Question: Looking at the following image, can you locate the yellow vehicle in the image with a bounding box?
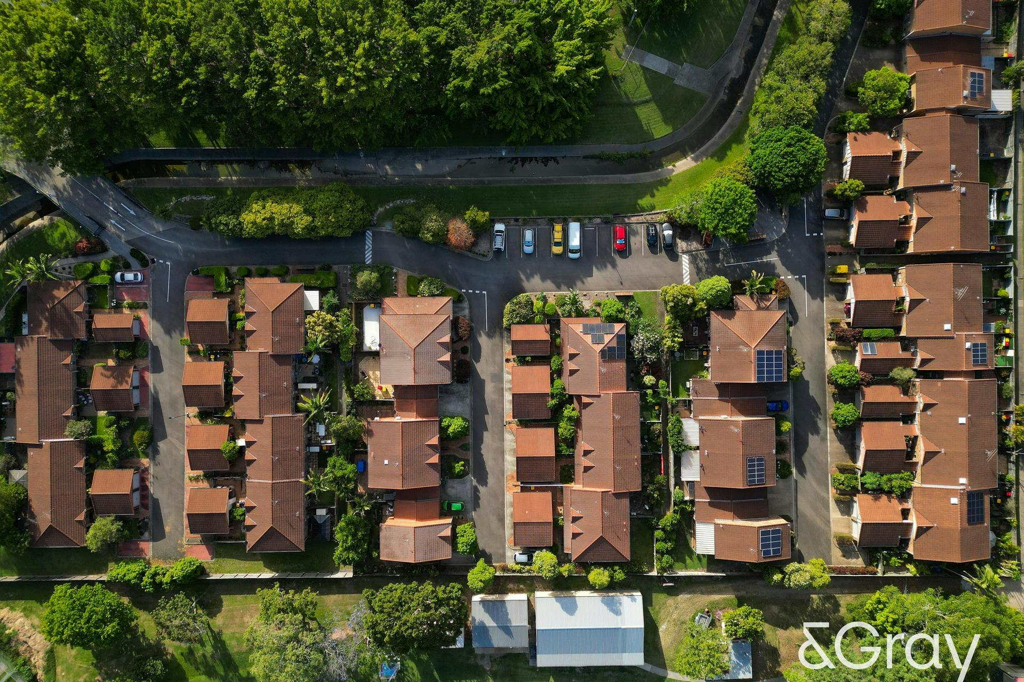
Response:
[551,222,564,255]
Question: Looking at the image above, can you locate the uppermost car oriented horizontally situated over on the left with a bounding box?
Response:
[115,271,144,283]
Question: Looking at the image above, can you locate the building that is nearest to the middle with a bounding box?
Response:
[510,324,551,356]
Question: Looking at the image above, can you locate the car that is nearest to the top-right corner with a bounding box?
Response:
[822,207,849,220]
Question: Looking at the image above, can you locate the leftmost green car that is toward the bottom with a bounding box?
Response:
[442,500,465,512]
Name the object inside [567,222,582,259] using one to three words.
vehicle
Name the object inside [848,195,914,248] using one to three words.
building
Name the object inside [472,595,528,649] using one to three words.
shed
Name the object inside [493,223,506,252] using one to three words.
vehicle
